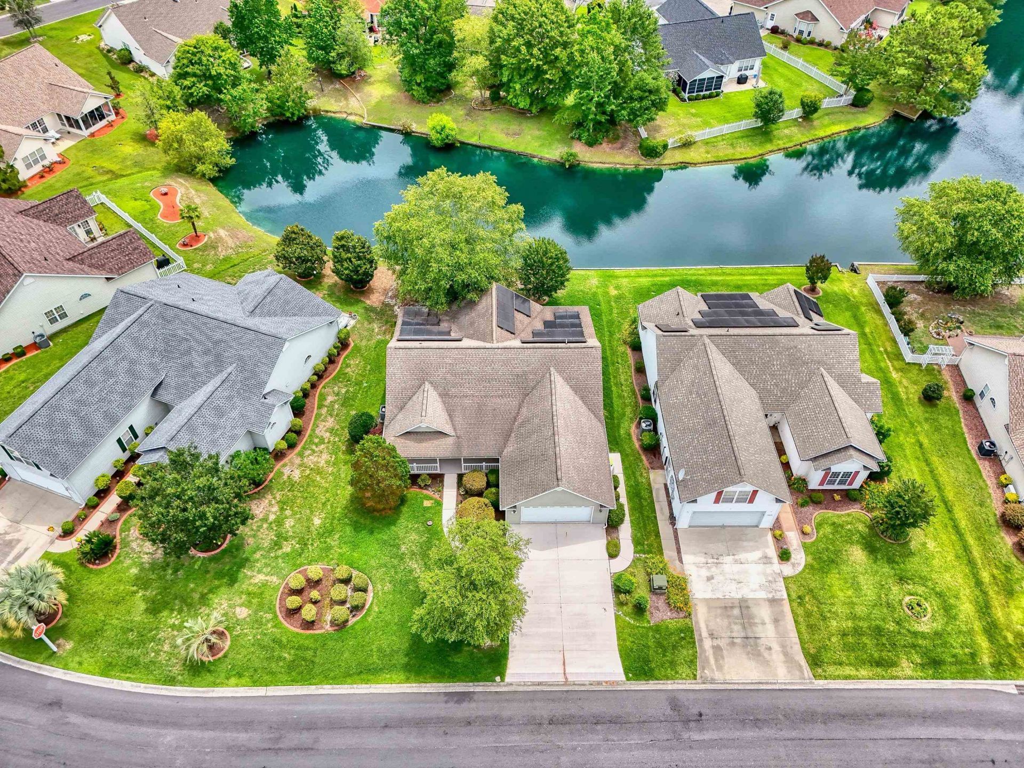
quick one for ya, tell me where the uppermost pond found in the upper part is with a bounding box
[214,0,1024,271]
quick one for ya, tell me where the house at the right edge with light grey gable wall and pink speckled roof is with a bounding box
[958,337,1024,501]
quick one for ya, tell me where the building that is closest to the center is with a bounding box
[382,282,617,529]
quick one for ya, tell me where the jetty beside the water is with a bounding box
[892,103,924,123]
